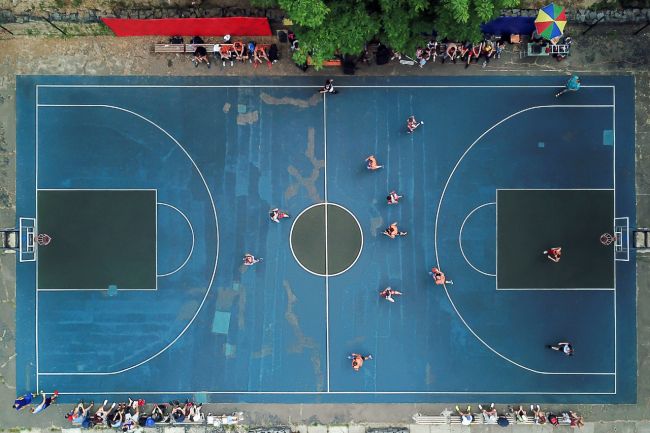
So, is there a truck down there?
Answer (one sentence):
No, I can't see a single truck in this photo.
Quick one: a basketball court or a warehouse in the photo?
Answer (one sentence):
Looking from above, you can make out a basketball court.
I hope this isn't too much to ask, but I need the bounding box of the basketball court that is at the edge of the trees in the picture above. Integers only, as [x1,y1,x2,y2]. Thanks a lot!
[16,76,637,404]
